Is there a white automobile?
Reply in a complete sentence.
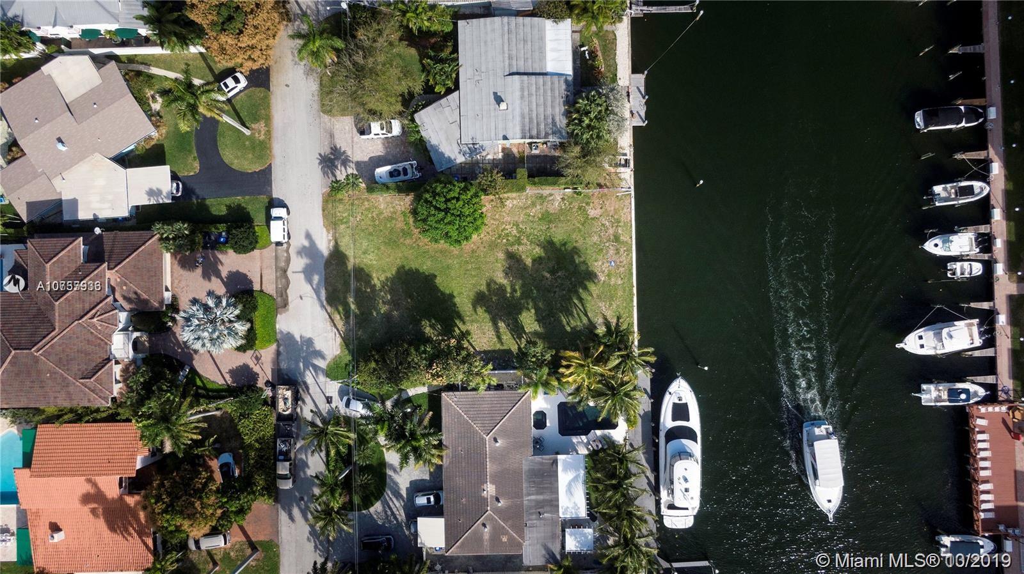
Yes, the image includes a white automobile.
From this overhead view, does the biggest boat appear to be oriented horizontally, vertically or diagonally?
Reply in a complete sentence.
The biggest boat runs vertically in the image.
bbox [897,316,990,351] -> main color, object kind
white boat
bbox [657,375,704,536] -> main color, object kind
white boat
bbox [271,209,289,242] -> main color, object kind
white car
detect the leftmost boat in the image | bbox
[372,161,425,182]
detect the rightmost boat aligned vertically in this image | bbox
[801,416,845,522]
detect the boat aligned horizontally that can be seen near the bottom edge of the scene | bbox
[933,535,998,557]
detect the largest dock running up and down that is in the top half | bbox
[633,74,646,125]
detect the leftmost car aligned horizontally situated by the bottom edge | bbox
[191,531,230,551]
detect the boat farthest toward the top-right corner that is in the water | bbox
[907,107,985,130]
